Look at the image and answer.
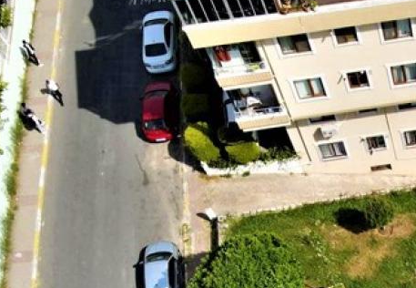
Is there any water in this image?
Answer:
No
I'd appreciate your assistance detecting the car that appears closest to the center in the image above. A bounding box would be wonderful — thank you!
[136,82,178,148]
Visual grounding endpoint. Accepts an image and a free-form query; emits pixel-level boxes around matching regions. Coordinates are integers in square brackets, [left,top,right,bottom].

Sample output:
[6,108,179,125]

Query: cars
[136,82,178,148]
[139,13,180,79]
[139,240,183,288]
